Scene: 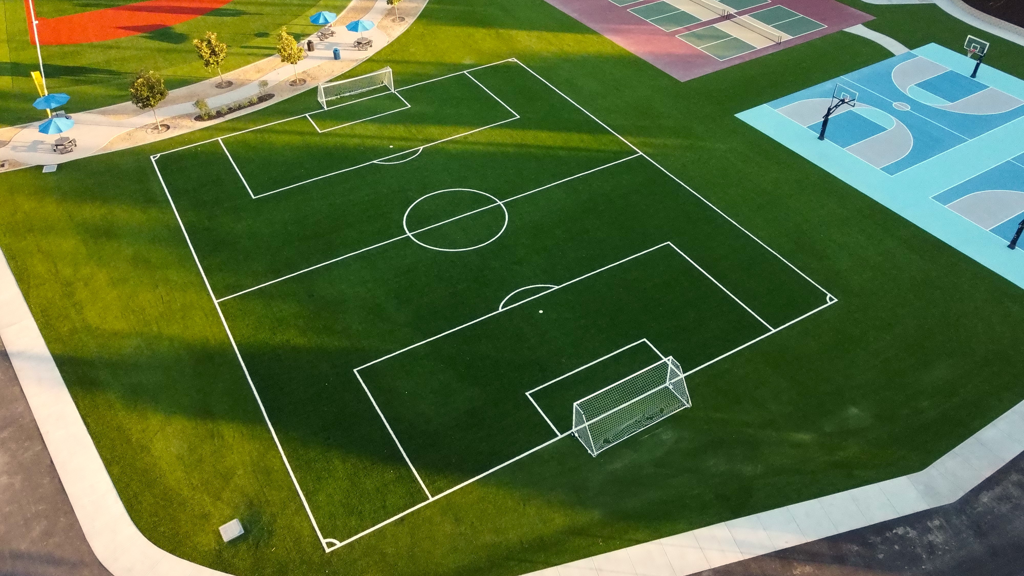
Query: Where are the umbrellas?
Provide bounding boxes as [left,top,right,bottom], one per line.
[35,117,73,139]
[31,91,68,117]
[307,11,335,27]
[347,18,375,36]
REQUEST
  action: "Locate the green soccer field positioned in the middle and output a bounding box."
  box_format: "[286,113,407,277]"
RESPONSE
[153,59,835,550]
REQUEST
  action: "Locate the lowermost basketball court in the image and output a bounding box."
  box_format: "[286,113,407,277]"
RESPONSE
[927,150,1024,252]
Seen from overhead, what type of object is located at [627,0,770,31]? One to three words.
sports court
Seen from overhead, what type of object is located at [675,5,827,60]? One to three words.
sports court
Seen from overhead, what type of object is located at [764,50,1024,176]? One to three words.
basketball court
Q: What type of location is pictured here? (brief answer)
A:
sports ground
